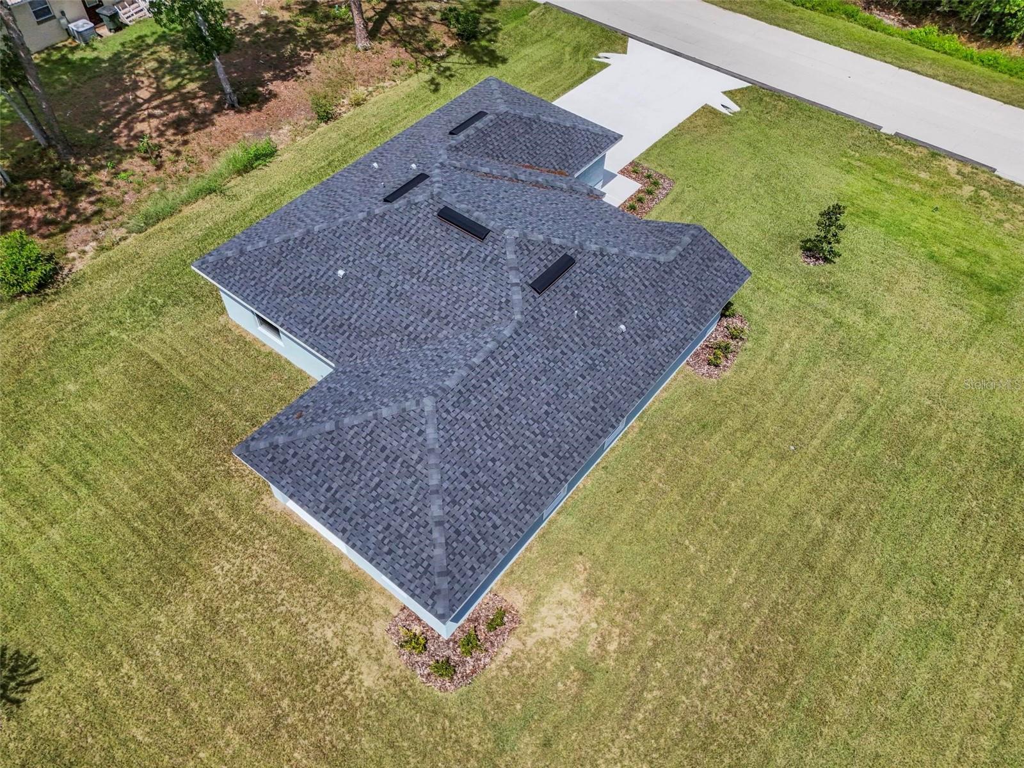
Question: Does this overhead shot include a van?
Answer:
No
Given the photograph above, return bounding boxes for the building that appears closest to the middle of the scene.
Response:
[192,76,751,639]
